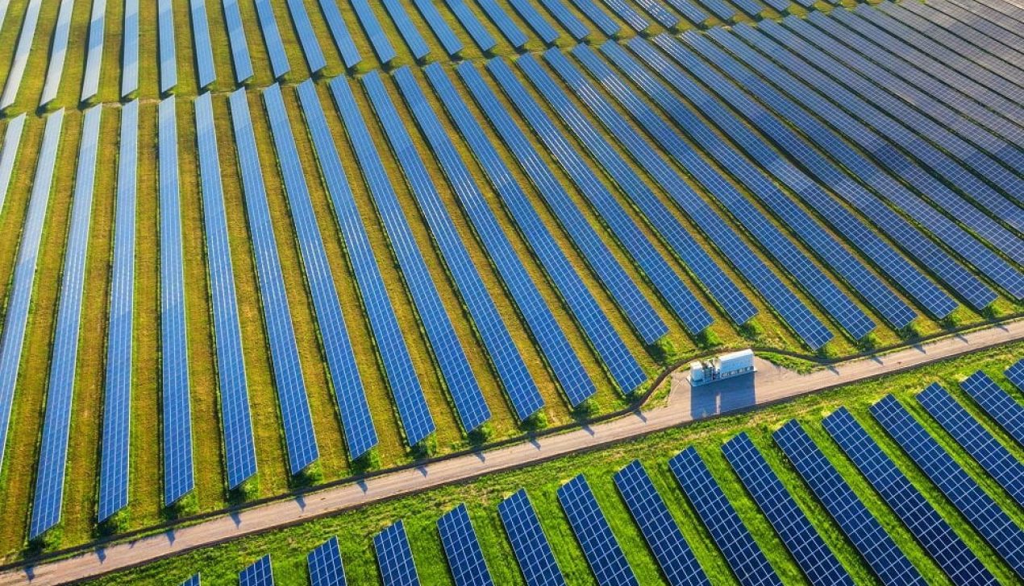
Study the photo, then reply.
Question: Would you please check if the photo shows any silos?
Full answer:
No, the photo shows no silo.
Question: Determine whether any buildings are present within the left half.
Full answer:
No, no building is visible within the left half.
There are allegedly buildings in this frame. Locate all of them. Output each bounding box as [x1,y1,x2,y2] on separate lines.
[683,351,757,386]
